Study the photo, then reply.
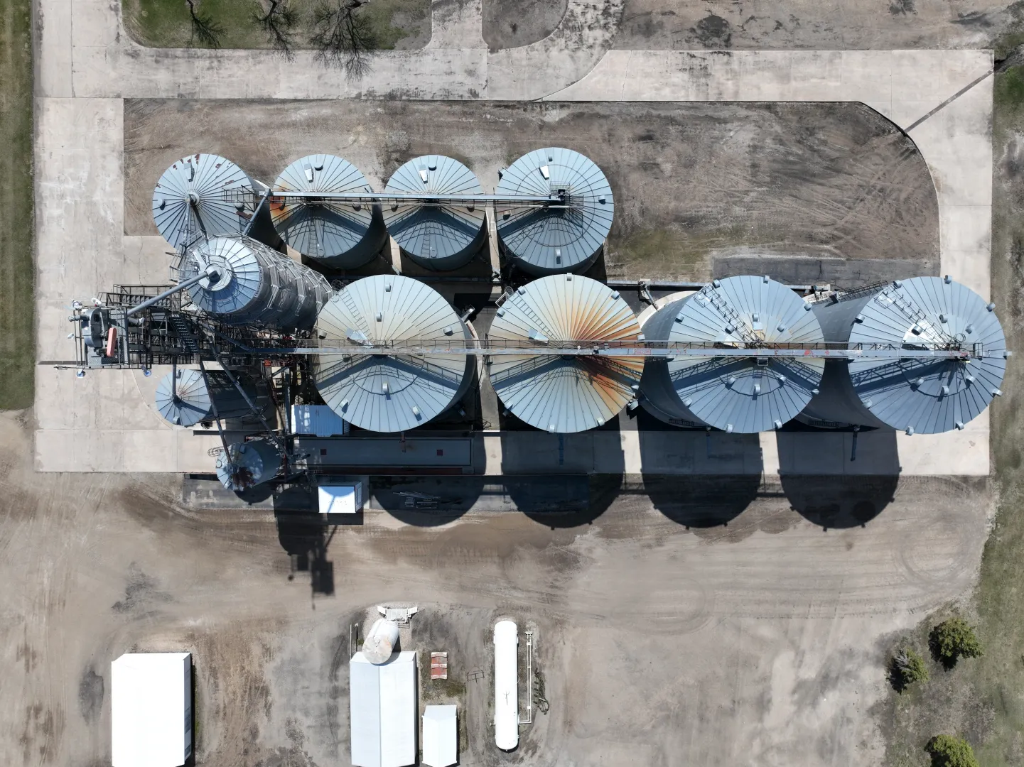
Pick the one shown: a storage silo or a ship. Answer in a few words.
storage silo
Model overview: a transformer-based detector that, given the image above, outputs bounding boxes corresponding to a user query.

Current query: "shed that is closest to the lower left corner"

[110,653,193,767]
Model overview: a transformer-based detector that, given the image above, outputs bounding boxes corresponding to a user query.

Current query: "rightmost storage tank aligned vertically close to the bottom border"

[492,620,520,753]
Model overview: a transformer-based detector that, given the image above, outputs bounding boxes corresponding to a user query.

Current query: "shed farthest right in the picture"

[422,705,459,767]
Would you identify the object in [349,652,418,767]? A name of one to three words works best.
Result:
shed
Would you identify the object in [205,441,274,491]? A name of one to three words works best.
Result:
silo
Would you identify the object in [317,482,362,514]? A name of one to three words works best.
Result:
shed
